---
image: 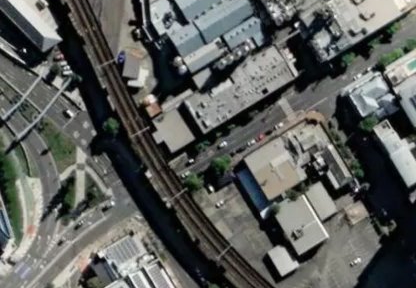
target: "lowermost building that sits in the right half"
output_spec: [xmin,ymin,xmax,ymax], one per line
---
[268,245,299,277]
